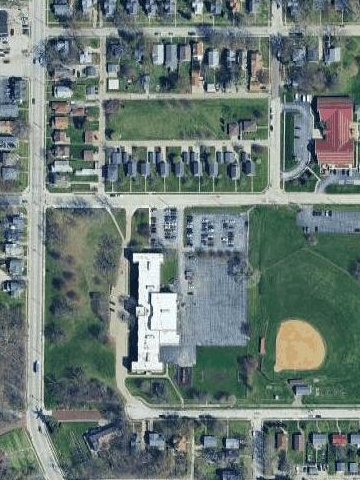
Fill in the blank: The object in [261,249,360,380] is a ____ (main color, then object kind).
green baseball field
